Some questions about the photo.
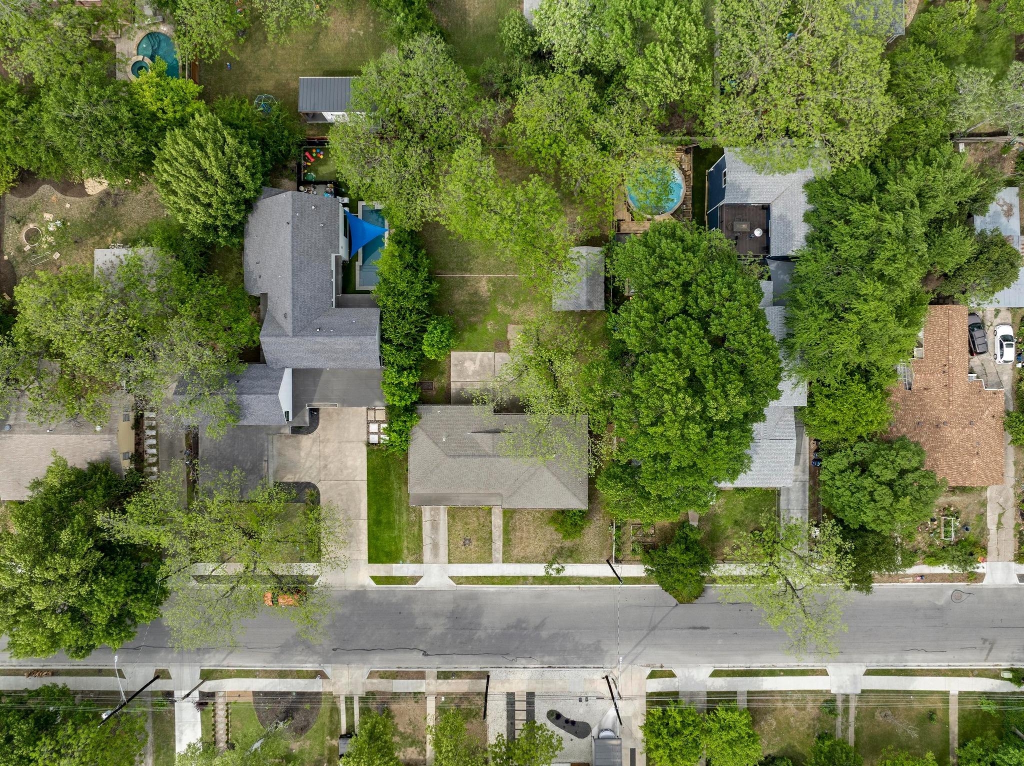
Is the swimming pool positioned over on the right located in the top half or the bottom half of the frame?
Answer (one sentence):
The top half of the photo is where the swimming pool positioned over on the right is.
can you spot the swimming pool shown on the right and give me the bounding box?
[626,163,686,222]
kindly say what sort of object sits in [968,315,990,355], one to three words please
car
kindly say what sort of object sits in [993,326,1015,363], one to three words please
car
